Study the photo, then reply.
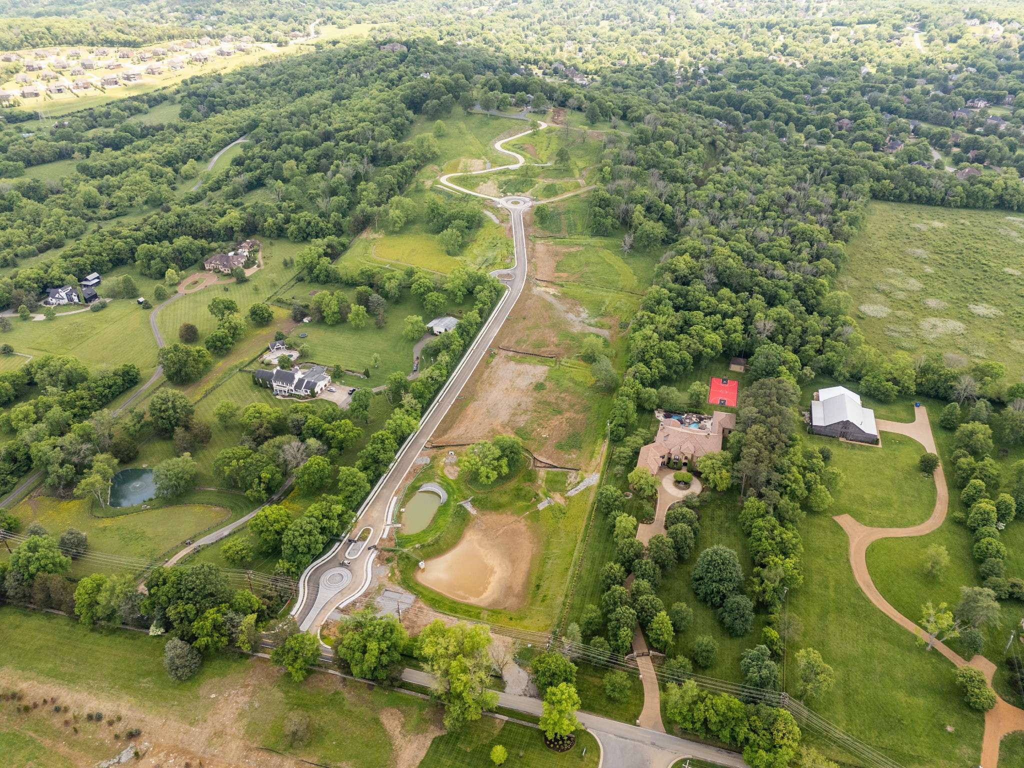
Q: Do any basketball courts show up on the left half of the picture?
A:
No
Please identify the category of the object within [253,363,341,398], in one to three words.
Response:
house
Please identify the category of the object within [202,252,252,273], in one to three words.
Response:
house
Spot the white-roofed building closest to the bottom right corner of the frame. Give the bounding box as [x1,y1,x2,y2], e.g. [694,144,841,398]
[805,385,890,442]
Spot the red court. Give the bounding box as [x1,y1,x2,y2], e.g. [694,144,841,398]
[708,377,739,407]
